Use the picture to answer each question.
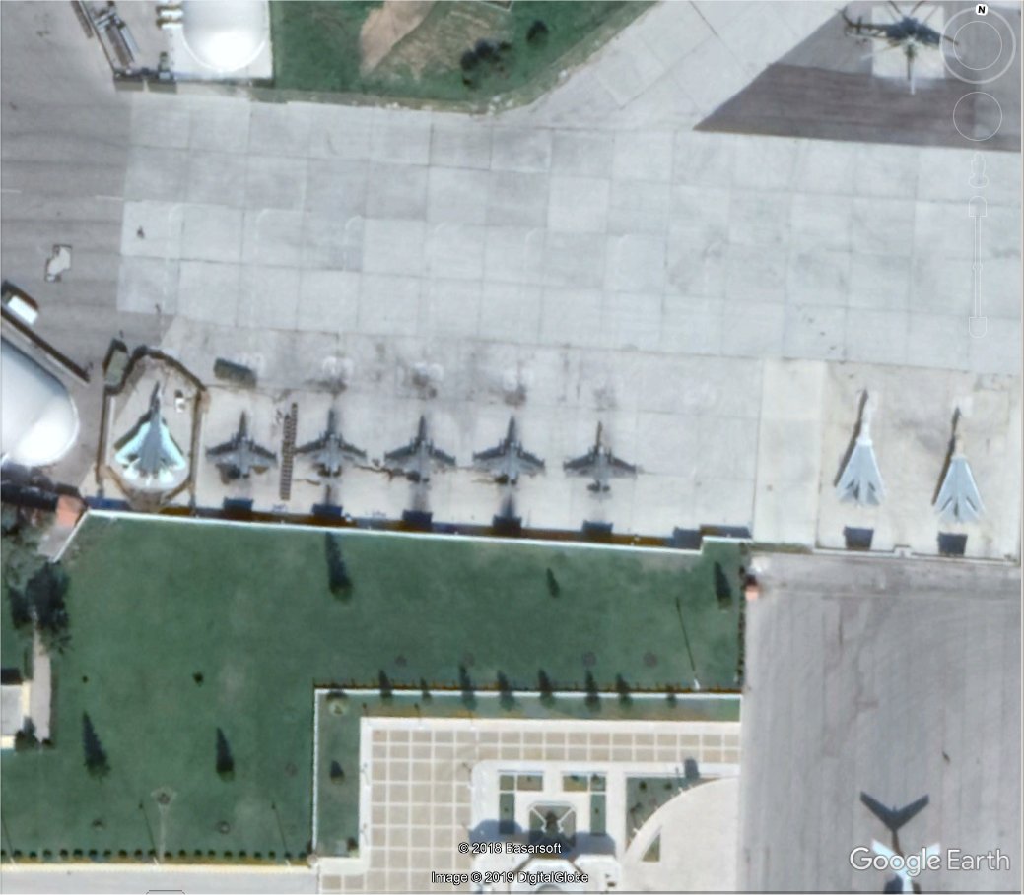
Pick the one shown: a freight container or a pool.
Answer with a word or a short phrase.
freight container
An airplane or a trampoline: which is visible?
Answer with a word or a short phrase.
airplane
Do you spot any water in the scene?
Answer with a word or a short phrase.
No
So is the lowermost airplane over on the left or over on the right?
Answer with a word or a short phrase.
right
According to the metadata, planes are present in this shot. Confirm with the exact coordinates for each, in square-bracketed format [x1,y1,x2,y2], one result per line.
[476,422,548,486]
[116,389,186,485]
[297,415,369,480]
[873,841,941,895]
[837,399,889,508]
[207,411,279,480]
[565,426,636,493]
[932,408,985,522]
[386,419,458,483]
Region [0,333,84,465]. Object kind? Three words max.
hangar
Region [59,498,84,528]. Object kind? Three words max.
shed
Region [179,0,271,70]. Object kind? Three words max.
hangar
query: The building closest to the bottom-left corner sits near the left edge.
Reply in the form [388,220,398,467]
[0,682,29,747]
